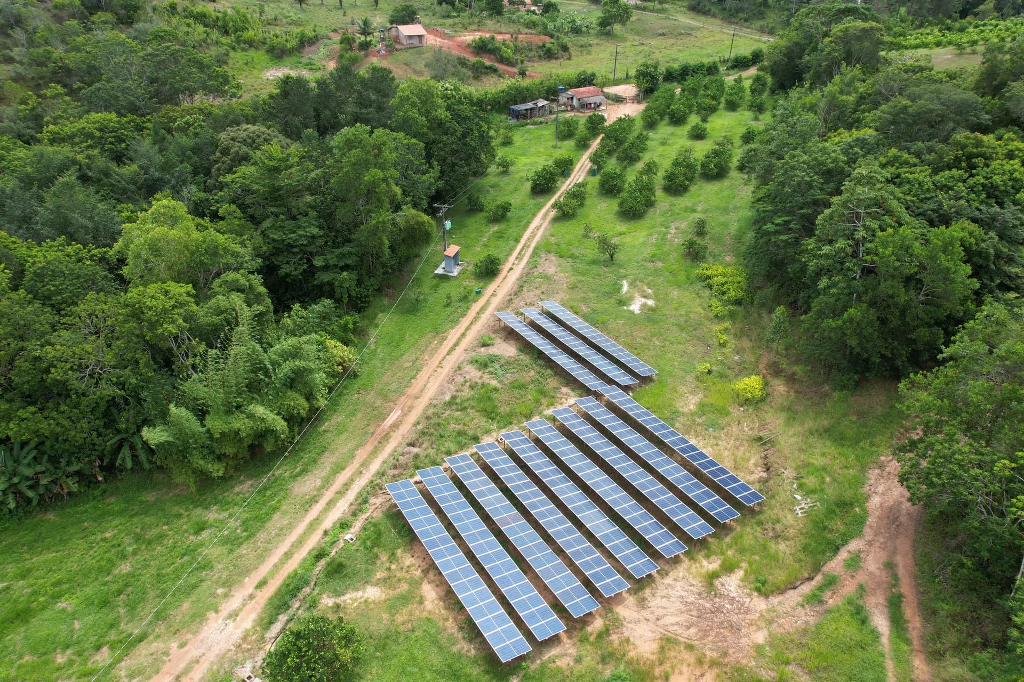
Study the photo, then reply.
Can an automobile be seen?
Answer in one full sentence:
No, I can't see a single automobile in this photo.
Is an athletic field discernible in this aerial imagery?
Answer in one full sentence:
No, the frame has no athletic field in it.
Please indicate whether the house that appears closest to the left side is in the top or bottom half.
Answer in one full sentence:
It is in the top half that the house that appears closest to the left side appears.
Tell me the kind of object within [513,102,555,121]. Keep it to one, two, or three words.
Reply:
shed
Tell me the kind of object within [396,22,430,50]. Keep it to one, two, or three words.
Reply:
house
